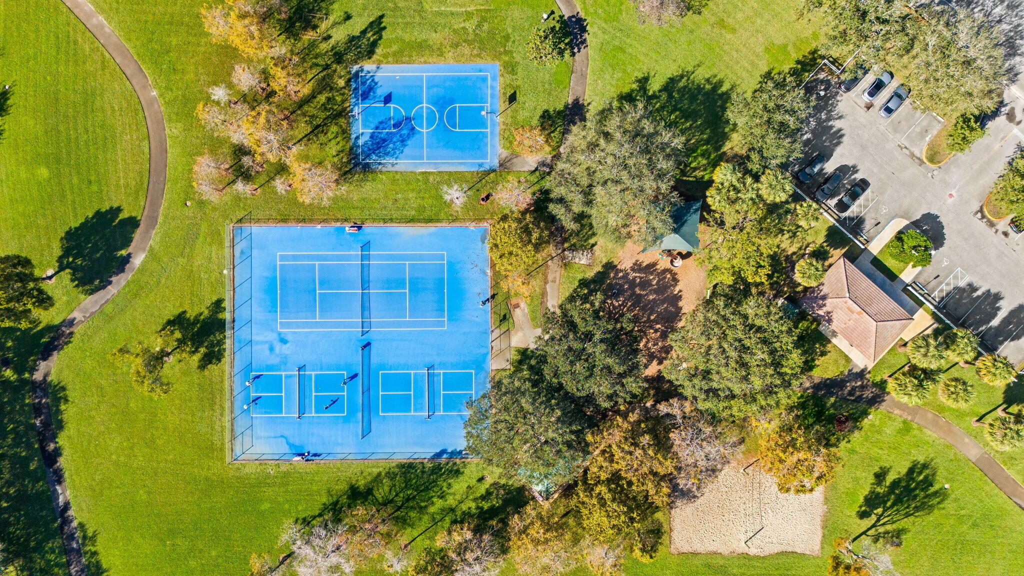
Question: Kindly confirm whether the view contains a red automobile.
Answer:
No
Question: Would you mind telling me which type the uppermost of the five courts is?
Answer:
basketball court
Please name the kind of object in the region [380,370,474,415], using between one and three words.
sports court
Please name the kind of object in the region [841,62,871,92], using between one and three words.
car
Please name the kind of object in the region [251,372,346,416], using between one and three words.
sports court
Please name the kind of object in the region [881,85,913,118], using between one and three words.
car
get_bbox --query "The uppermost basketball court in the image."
[350,62,500,173]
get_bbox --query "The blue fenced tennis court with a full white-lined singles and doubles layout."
[230,223,492,463]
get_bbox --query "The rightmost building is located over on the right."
[802,255,914,364]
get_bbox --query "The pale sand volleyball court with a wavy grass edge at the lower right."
[666,459,828,559]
